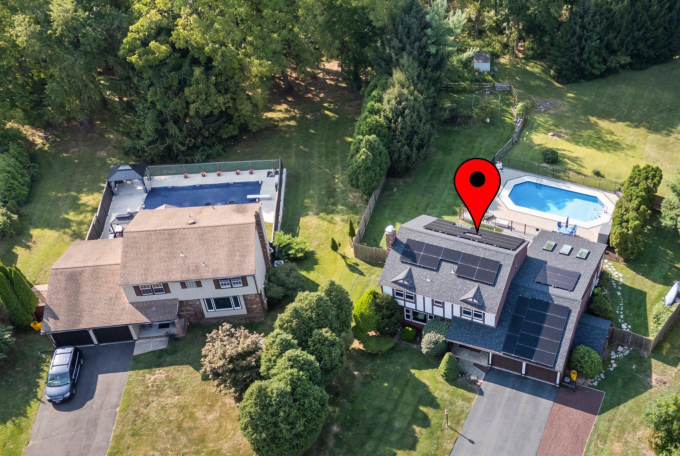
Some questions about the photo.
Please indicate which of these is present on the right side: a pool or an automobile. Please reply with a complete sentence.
The one visible on the right side is a pool.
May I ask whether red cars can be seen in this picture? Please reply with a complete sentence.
No, the picture doesn't show any red car.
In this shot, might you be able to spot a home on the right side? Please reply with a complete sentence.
Yes, looking on the right side, one can make out a home.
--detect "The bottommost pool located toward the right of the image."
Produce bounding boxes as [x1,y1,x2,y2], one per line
[499,174,613,229]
